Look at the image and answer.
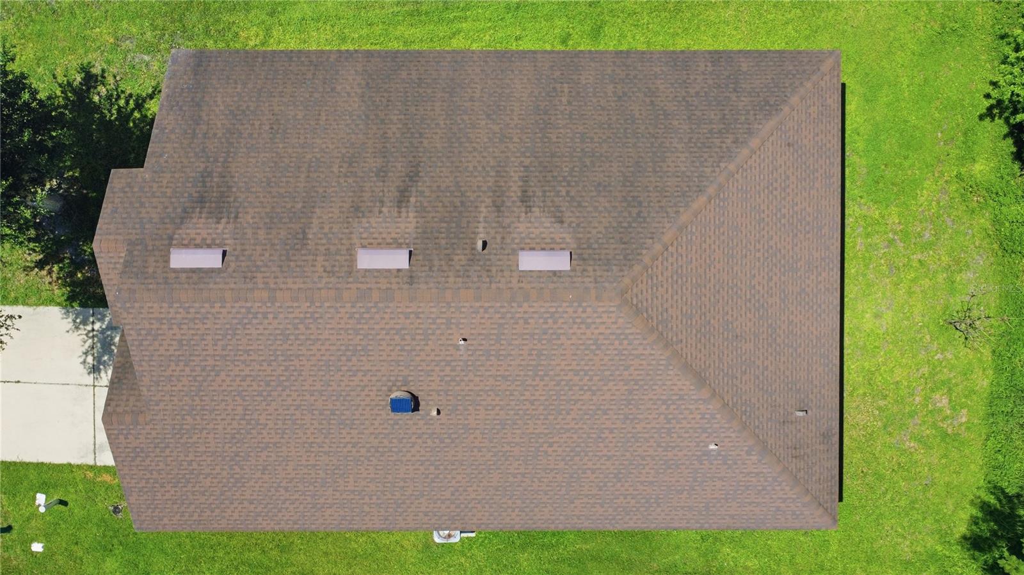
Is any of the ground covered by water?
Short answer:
No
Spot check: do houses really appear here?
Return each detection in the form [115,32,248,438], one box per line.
[92,48,842,532]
